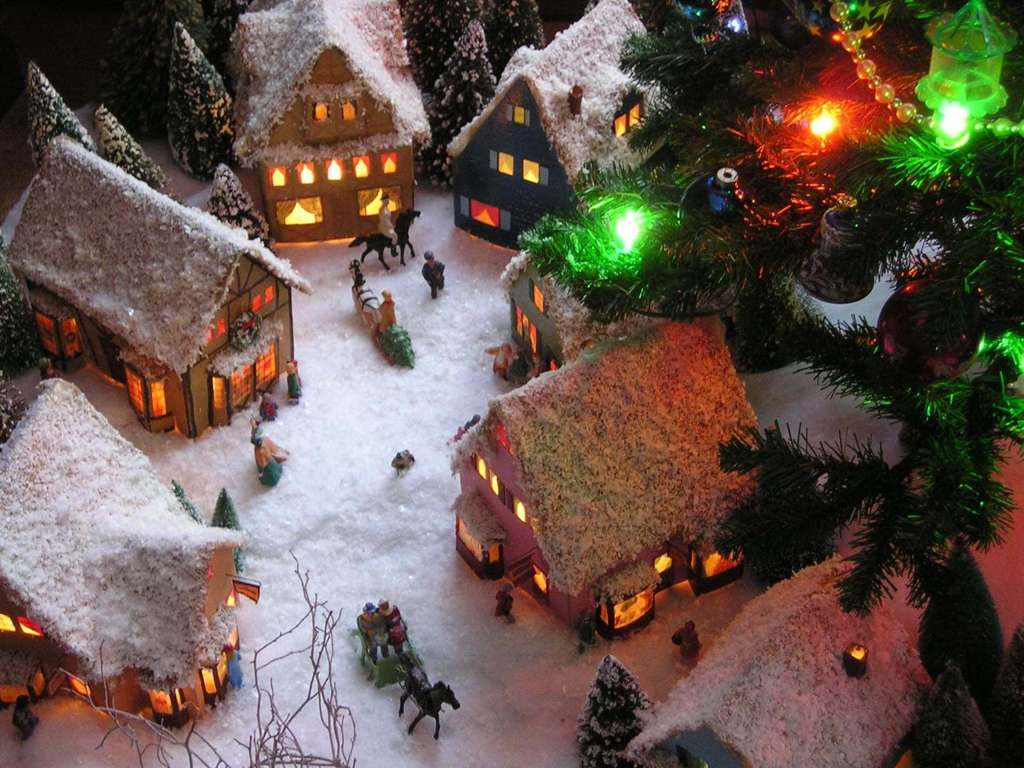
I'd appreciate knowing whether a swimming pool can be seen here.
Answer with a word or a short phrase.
No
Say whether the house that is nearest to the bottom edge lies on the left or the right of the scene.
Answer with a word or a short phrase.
right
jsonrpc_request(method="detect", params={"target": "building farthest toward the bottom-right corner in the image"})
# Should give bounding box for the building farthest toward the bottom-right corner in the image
[628,555,932,768]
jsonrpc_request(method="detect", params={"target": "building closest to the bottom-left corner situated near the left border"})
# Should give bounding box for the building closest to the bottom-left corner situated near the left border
[0,370,252,730]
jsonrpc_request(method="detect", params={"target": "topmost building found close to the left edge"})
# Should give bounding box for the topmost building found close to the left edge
[12,133,313,437]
